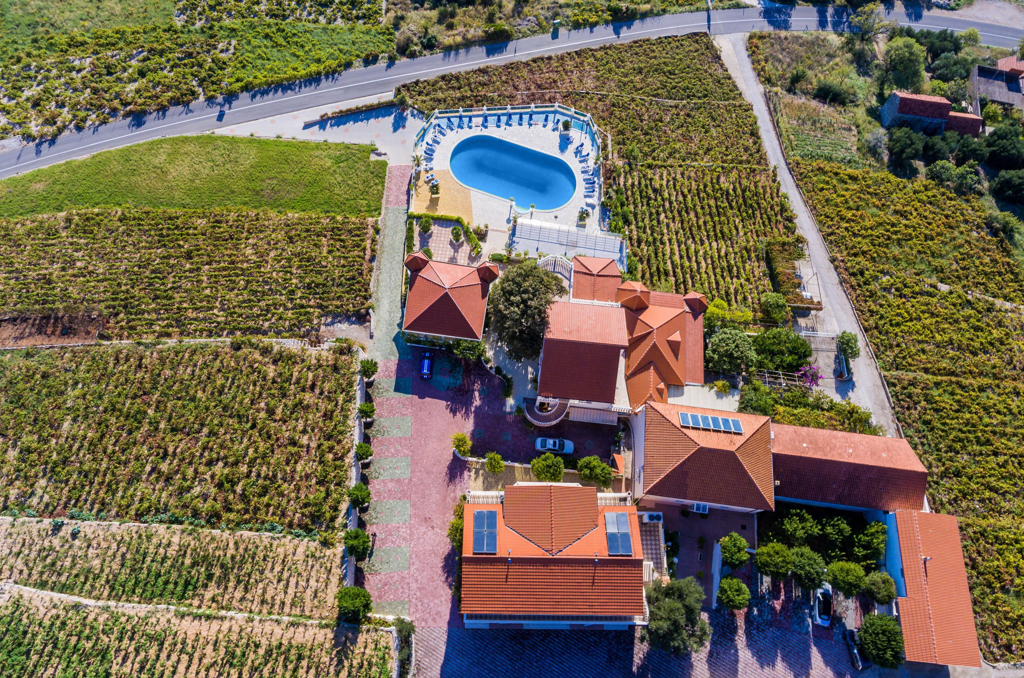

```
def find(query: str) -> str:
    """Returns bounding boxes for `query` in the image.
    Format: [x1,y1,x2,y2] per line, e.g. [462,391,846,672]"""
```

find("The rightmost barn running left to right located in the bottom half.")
[771,423,928,510]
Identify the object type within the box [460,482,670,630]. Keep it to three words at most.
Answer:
house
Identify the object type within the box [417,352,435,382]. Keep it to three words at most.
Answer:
car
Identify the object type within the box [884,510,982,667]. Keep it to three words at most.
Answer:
barn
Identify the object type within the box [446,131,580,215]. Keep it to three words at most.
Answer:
swimming pool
